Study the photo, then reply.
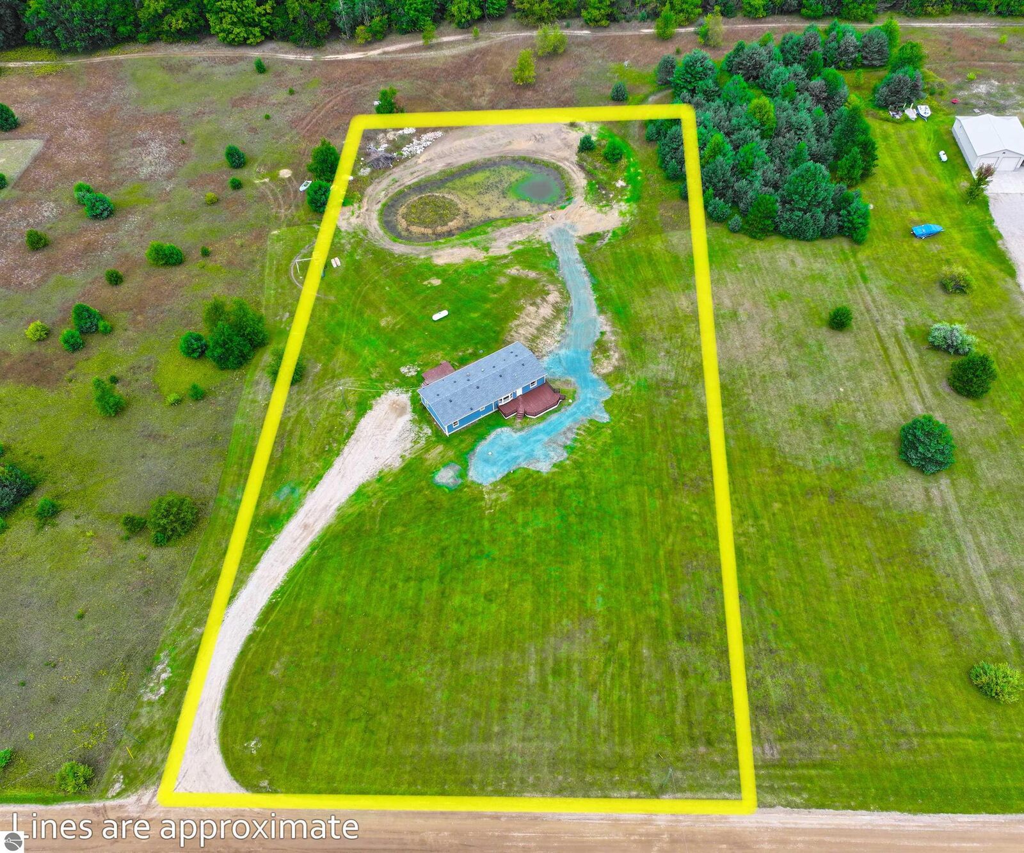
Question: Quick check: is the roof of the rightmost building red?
No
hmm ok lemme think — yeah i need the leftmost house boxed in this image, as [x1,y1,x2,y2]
[418,340,547,436]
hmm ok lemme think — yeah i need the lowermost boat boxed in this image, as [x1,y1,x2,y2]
[908,223,947,239]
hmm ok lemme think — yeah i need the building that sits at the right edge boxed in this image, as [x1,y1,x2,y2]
[951,107,1024,170]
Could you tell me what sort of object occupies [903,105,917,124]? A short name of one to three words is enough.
boat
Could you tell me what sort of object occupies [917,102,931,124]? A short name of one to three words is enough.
boat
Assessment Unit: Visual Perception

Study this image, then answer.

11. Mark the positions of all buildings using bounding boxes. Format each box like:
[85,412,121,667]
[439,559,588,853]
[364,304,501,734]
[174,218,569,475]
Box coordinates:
[951,107,1024,170]
[418,340,547,436]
